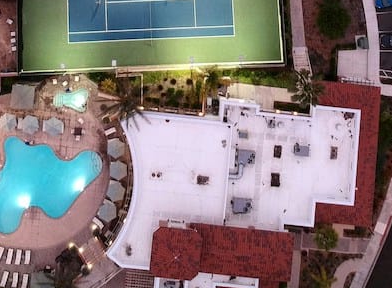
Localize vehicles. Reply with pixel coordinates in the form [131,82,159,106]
[379,33,392,48]
[374,0,392,9]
